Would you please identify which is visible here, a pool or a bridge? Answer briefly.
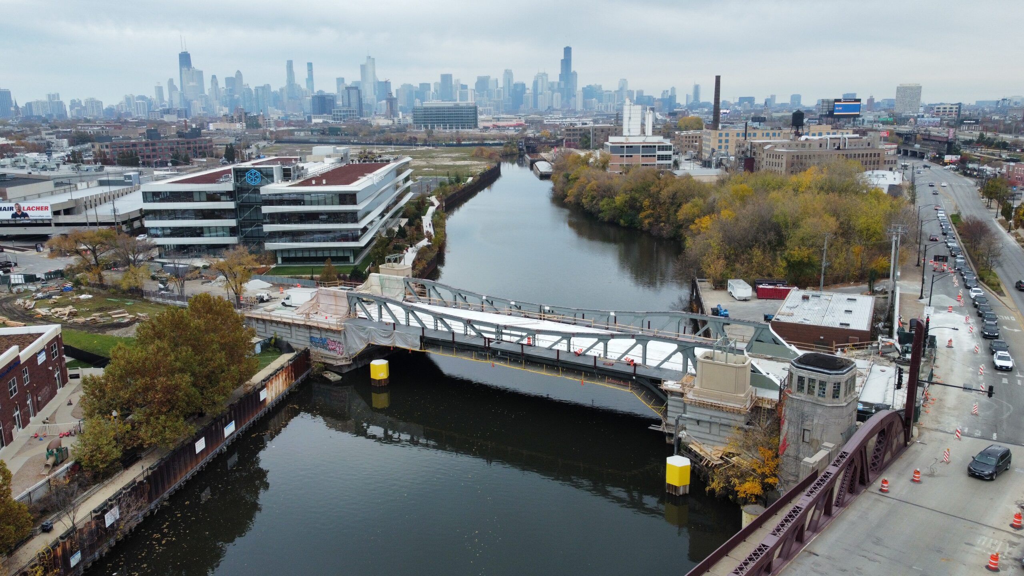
bridge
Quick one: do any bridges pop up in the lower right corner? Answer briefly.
Yes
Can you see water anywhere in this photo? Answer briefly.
Yes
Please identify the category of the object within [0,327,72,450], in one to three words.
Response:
building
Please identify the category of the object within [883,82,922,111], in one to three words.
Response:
building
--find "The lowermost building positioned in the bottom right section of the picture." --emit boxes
[782,344,878,498]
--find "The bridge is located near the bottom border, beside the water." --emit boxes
[688,414,1024,576]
